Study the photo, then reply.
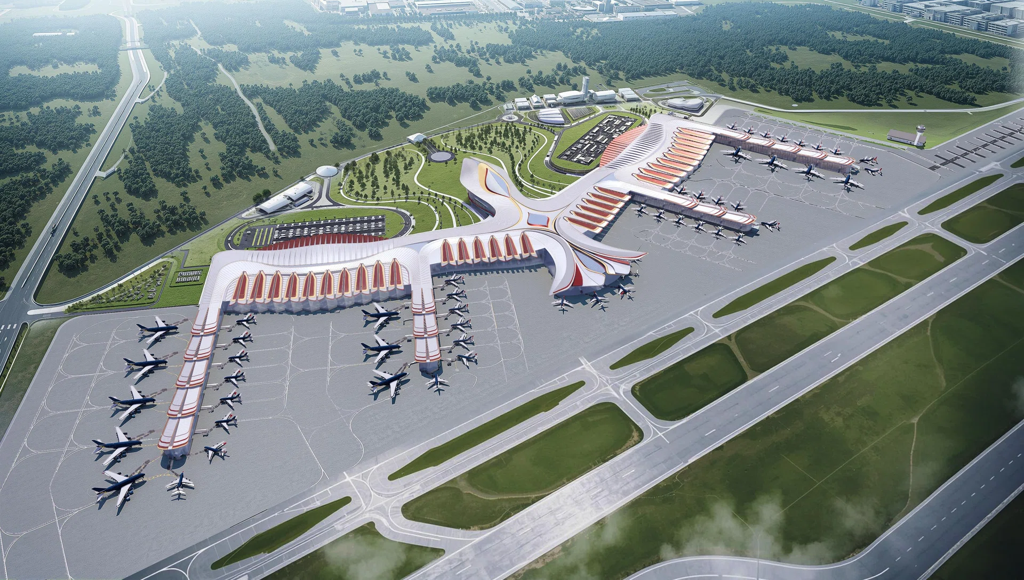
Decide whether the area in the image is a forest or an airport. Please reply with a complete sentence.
The area seen from above is an airport.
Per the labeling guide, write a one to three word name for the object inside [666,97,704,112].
building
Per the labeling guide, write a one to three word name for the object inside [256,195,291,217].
hangar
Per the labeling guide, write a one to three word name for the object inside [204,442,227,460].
airplane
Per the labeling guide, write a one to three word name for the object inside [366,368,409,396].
airplane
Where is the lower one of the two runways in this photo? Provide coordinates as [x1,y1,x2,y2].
[628,422,1024,580]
